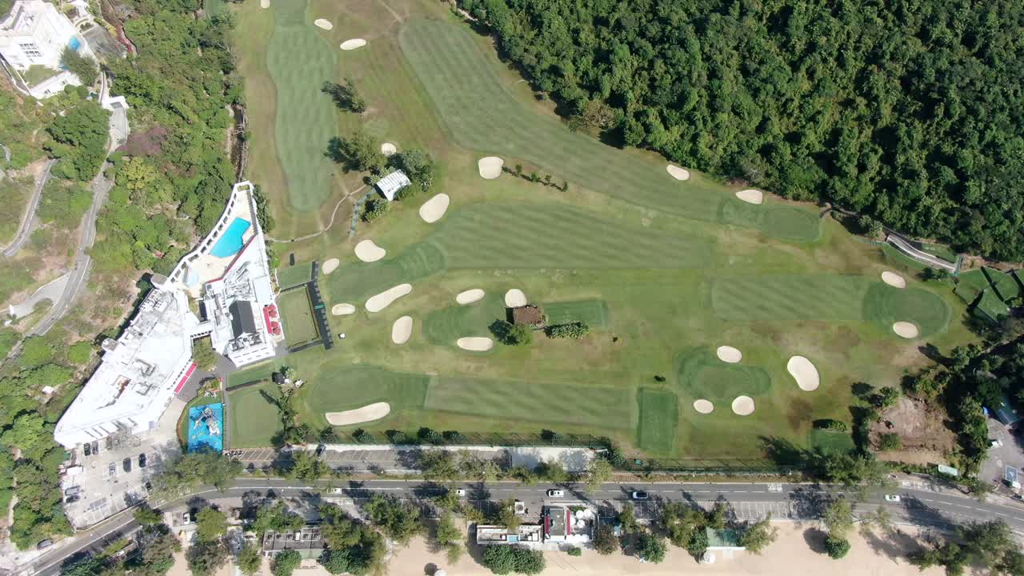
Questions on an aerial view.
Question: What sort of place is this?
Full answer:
The picture captures a golf course.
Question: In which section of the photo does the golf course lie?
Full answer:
The golf course is in the center part of the image.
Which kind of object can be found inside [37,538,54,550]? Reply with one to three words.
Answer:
vehicle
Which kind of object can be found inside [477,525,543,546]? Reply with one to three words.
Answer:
building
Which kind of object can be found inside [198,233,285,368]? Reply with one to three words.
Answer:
building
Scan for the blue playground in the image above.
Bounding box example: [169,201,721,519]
[189,402,223,453]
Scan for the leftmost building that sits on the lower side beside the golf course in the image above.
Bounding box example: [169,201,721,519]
[54,283,200,449]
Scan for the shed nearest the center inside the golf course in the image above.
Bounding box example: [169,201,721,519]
[513,307,544,326]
